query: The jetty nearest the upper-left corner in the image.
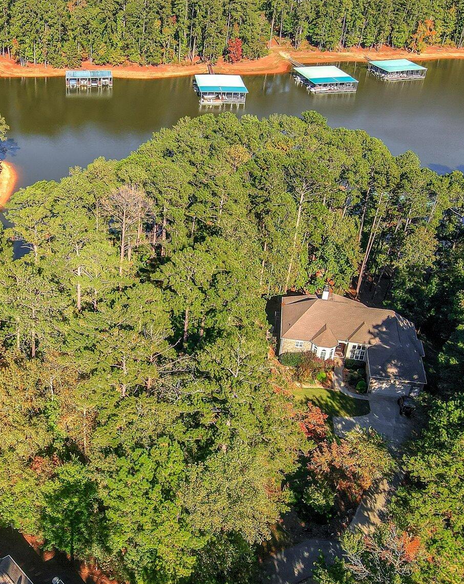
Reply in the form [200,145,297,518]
[67,71,113,88]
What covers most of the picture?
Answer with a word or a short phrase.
trees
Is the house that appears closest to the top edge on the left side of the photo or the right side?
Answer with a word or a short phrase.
right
